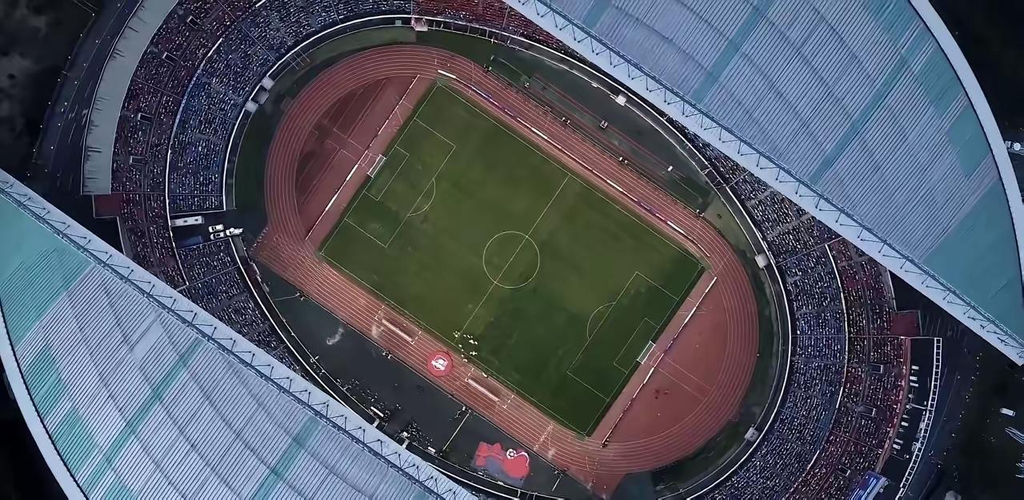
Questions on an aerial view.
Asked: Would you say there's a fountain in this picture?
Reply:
No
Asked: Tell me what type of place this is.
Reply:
sports ground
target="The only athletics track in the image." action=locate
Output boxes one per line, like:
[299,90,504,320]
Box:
[249,43,762,500]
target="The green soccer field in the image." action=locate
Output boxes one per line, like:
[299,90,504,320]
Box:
[312,75,713,445]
